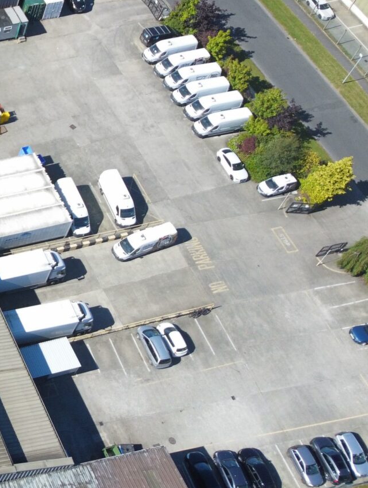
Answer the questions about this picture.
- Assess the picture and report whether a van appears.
Yes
